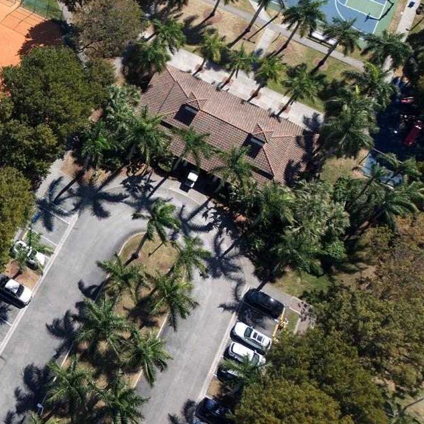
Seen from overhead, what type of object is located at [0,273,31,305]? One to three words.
truck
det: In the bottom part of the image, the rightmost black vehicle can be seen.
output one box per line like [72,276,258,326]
[243,287,285,318]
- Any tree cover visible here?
Yes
